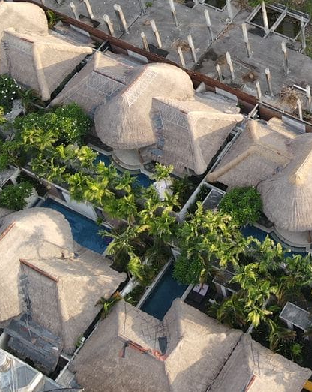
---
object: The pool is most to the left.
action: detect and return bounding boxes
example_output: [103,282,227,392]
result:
[36,195,107,257]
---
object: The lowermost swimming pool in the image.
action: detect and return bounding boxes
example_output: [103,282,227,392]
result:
[134,258,202,322]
